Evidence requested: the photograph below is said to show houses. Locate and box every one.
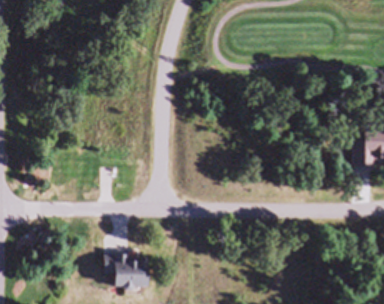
[364,132,384,166]
[104,254,149,291]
